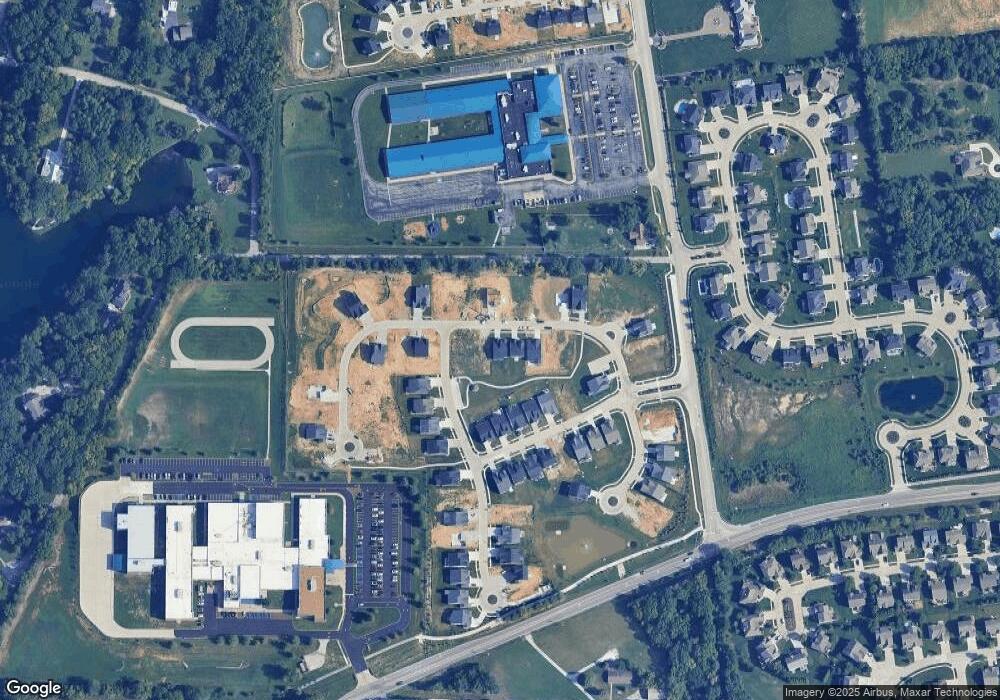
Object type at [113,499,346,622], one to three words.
building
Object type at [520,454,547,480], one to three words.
house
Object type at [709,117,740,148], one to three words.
roundabout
